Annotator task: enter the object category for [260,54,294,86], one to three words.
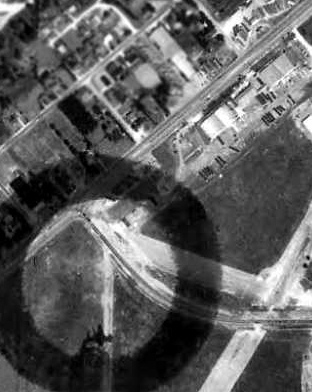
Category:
building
